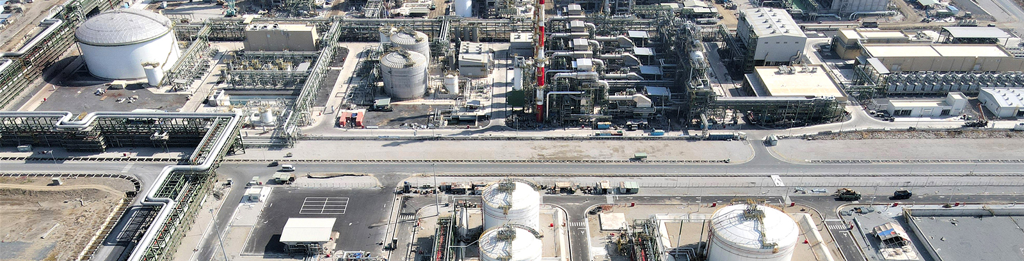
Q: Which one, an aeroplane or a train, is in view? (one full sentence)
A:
Looking from above, you can make out a train.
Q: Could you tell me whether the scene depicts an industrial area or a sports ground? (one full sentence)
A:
It's an industrial area.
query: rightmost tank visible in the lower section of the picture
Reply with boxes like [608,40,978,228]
[701,195,799,261]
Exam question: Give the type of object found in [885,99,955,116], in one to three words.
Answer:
building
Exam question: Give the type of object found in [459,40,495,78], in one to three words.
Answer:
building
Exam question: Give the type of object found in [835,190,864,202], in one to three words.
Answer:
vehicle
